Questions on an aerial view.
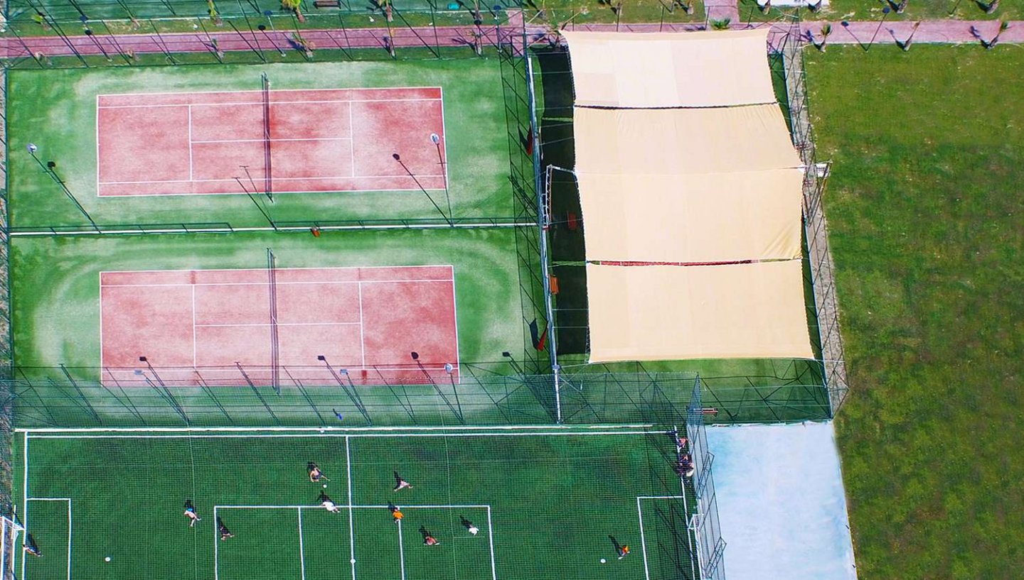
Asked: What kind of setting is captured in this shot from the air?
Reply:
sports ground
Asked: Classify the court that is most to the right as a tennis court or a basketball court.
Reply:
tennis court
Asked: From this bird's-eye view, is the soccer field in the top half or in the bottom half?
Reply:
bottom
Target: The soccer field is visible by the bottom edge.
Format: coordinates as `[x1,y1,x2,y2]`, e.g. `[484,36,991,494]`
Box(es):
[10,425,702,580]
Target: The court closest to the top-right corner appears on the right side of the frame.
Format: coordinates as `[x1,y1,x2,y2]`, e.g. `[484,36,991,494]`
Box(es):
[534,50,830,424]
